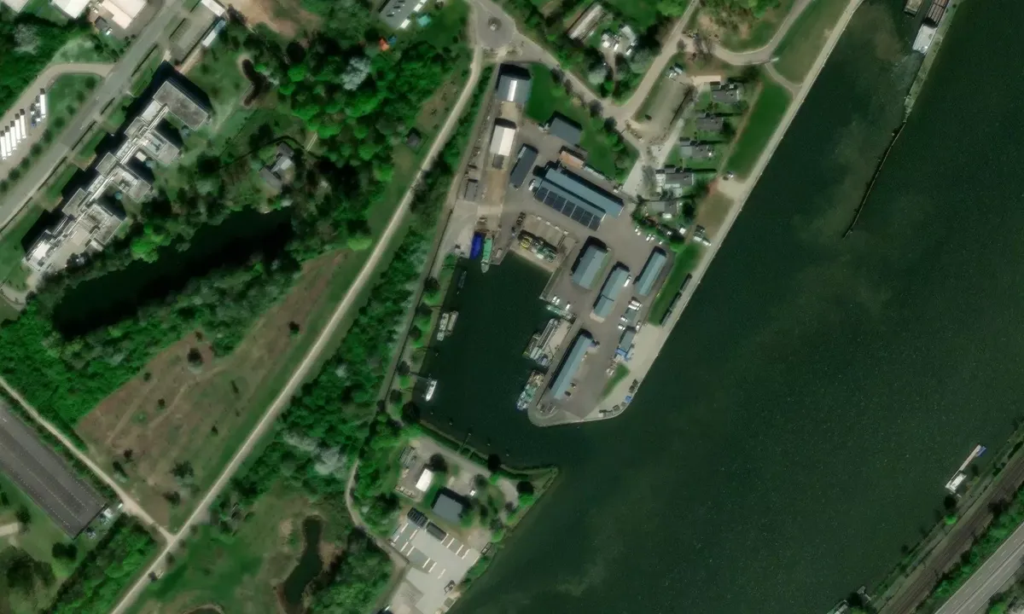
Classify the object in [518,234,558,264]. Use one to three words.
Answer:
ship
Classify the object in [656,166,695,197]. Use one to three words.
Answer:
house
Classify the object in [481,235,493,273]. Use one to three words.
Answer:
boat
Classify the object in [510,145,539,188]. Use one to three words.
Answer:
shed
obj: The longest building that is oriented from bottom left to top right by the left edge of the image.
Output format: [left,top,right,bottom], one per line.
[25,77,215,271]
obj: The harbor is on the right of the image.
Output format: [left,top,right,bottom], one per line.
[430,0,864,426]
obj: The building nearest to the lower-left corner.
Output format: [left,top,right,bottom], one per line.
[0,396,107,538]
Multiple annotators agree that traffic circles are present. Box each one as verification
[476,0,516,48]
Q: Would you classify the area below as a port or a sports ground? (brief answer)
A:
port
